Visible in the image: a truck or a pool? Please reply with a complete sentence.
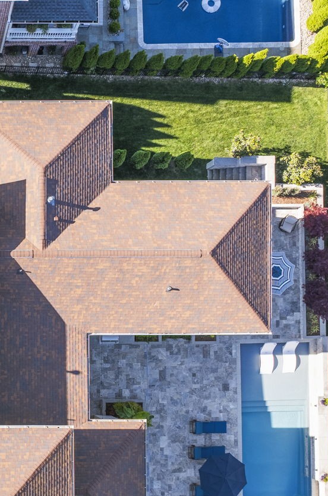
Visible in the photo is a pool.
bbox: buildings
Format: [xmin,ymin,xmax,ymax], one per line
[0,0,113,55]
[0,98,275,496]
